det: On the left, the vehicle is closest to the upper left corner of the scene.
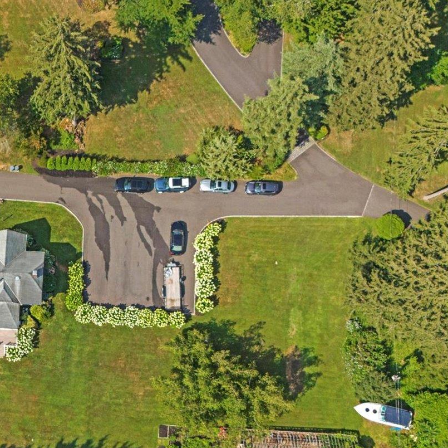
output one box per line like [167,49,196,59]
[113,176,150,194]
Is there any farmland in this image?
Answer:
No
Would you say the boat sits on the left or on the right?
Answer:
right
